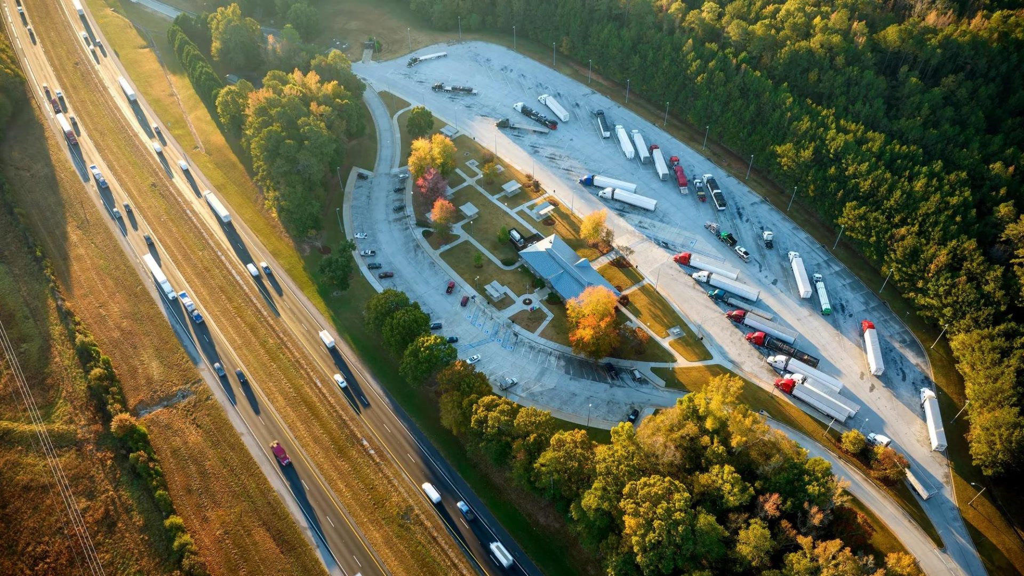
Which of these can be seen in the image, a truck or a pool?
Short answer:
truck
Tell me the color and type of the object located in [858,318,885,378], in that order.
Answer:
white truck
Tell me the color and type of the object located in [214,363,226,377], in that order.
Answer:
blue vehicle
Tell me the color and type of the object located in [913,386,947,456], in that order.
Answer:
white truck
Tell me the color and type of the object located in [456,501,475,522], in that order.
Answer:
blue vehicle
